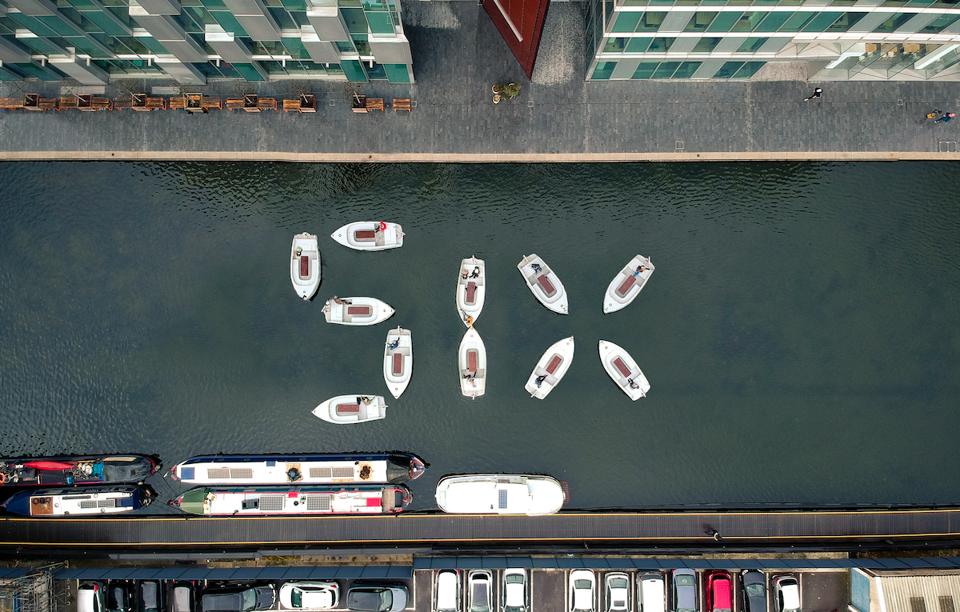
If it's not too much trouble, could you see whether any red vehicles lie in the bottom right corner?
Yes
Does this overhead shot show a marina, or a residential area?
marina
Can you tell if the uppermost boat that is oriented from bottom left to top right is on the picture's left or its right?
right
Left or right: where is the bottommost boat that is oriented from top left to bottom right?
right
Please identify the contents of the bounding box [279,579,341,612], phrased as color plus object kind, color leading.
white car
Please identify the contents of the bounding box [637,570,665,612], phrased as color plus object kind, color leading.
white car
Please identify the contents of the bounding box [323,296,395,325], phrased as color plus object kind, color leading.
white boat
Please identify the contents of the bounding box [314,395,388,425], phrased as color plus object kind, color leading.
white boat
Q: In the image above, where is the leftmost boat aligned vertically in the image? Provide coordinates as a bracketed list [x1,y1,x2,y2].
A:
[292,230,321,301]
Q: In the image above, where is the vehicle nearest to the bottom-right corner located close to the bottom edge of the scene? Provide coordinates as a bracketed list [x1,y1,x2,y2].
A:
[770,571,804,612]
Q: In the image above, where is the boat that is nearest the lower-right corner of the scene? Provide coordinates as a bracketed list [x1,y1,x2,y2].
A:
[599,339,651,401]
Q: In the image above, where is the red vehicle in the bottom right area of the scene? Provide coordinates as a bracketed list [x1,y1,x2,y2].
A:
[704,569,737,612]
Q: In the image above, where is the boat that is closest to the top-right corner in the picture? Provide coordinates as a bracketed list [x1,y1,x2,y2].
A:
[603,254,654,314]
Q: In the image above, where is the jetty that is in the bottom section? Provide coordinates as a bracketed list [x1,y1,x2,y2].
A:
[0,506,960,550]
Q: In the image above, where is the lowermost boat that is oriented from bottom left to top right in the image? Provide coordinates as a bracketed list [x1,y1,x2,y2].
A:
[526,336,575,399]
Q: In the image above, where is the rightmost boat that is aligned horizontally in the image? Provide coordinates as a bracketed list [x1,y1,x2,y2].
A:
[434,472,569,517]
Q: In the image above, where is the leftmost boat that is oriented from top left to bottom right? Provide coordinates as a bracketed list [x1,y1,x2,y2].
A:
[518,254,569,315]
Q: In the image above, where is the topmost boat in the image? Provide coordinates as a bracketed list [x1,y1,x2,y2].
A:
[332,221,406,250]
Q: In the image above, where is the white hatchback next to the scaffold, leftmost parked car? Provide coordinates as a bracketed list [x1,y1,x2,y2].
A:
[75,579,107,612]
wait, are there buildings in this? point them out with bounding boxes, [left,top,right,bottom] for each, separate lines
[483,0,547,79]
[0,0,419,85]
[837,570,960,612]
[587,0,960,82]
